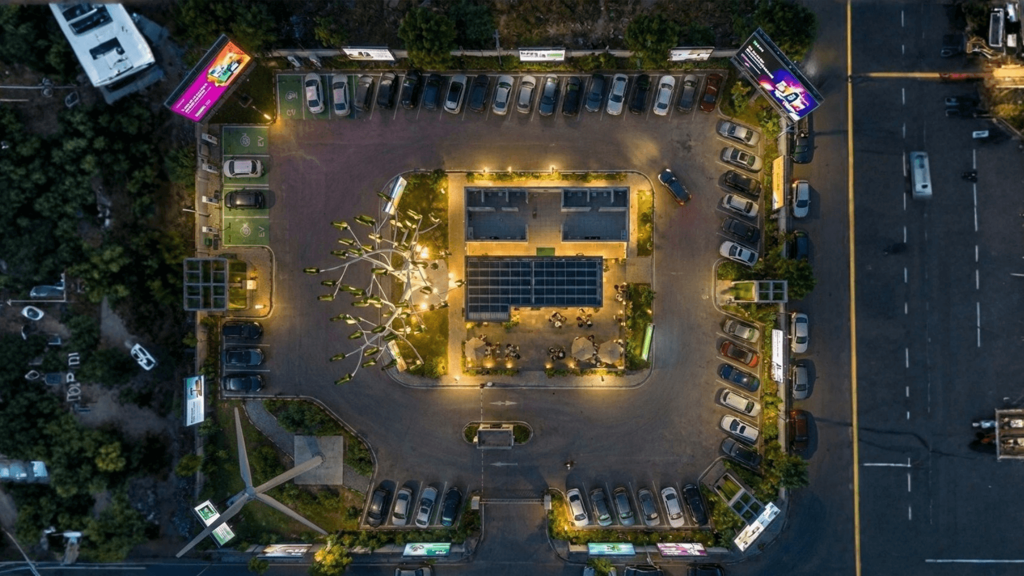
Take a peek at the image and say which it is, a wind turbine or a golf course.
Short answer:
wind turbine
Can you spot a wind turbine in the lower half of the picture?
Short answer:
Yes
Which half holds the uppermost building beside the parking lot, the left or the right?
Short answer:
left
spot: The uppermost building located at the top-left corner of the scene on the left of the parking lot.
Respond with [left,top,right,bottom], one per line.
[51,0,180,103]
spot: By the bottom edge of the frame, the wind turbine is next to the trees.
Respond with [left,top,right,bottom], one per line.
[176,409,343,557]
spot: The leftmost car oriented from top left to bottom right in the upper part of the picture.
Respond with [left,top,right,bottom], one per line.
[655,167,694,207]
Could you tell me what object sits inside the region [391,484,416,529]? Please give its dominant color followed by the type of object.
gray car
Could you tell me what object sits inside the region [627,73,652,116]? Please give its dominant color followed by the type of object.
black car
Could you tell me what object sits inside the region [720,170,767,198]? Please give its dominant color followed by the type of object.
black car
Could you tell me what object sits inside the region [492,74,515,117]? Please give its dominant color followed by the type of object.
gray car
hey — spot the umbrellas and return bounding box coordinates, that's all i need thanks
[464,337,488,361]
[599,339,623,362]
[571,336,595,360]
